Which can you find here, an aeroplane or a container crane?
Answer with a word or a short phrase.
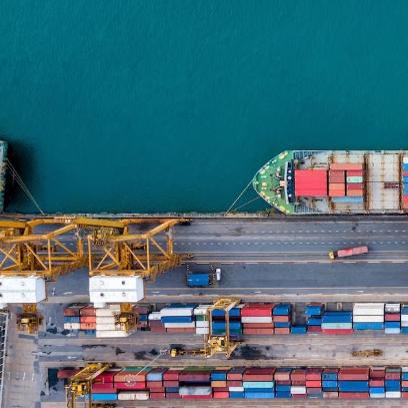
container crane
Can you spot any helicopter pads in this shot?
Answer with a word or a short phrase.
No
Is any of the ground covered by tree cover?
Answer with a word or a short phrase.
No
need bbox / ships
[0,142,10,210]
[252,149,408,216]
